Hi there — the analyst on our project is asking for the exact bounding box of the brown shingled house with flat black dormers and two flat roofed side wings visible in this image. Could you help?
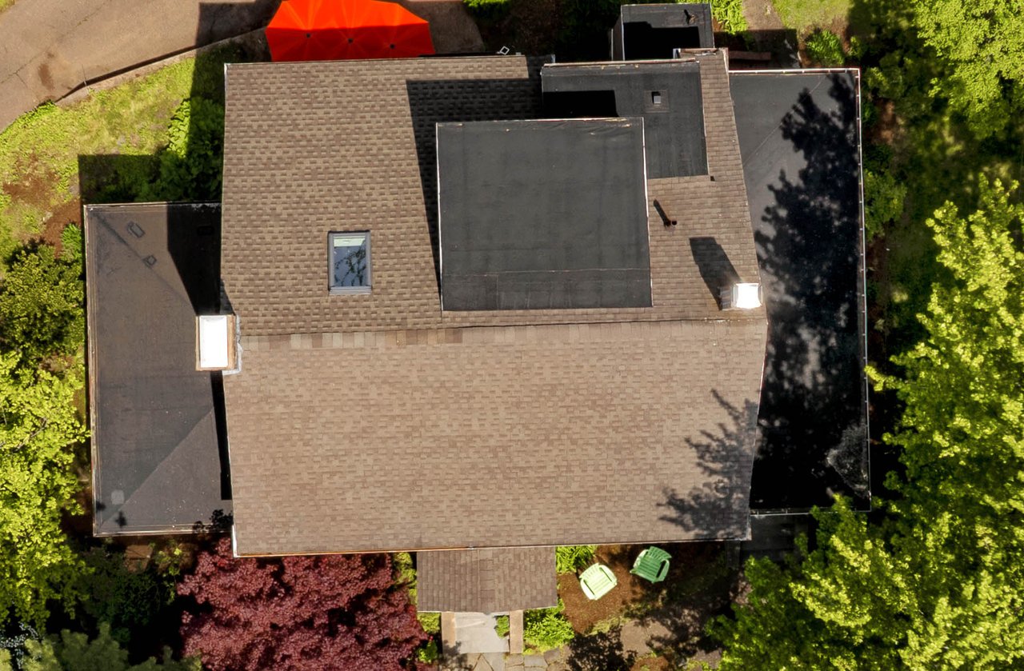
[84,3,871,618]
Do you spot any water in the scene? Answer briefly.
No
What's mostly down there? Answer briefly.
buildings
